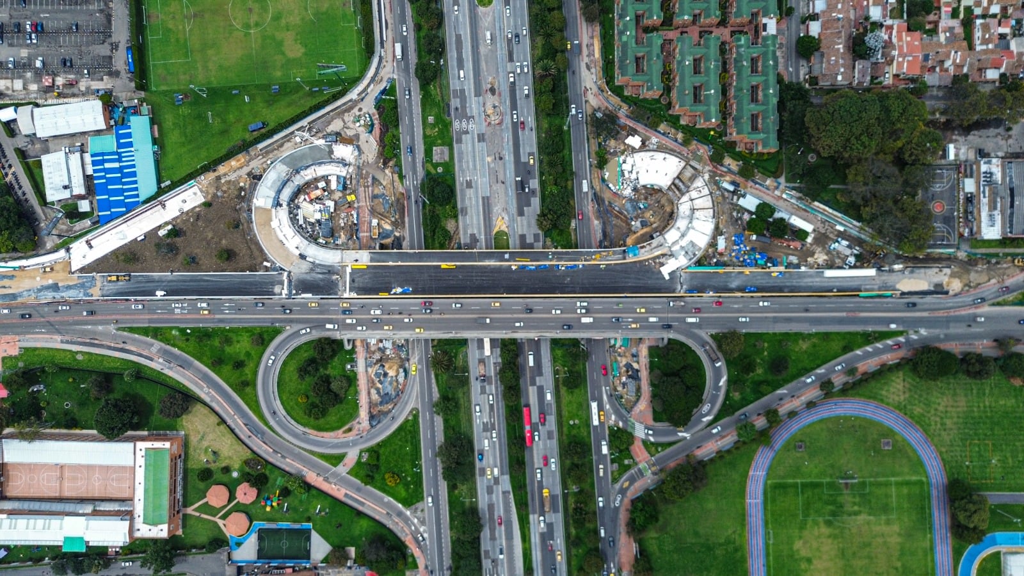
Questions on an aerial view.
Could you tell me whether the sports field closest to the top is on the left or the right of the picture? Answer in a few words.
left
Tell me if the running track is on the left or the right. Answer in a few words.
right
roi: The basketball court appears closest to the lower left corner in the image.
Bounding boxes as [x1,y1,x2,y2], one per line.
[0,460,134,499]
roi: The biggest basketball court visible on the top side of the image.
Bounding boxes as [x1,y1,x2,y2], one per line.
[919,165,959,245]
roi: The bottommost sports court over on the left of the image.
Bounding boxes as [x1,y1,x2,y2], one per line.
[228,522,333,564]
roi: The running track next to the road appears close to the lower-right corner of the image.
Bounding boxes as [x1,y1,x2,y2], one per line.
[747,399,953,576]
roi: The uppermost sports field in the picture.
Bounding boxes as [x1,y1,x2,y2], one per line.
[140,0,366,96]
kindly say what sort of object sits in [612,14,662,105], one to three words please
building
